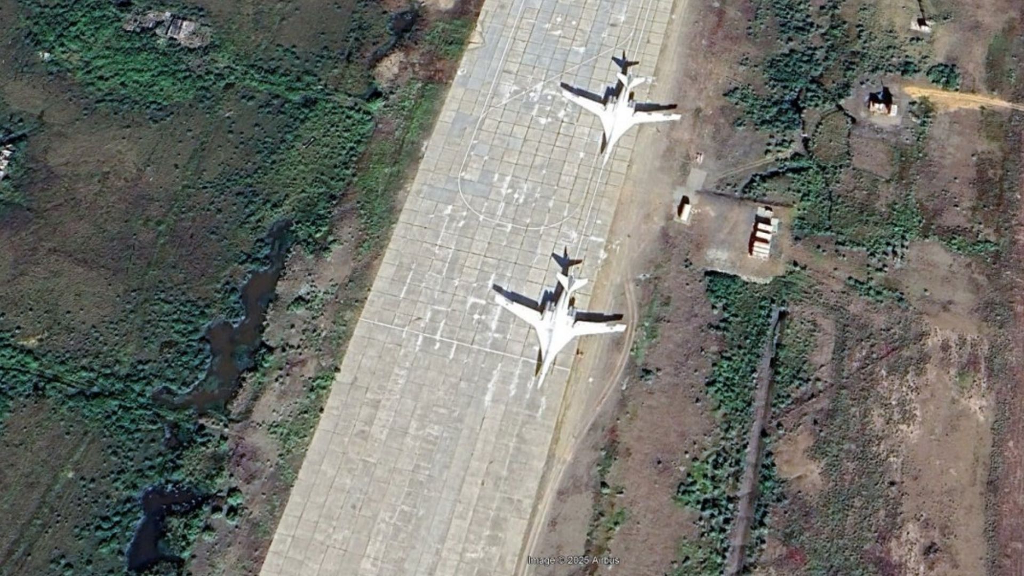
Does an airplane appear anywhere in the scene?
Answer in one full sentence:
Yes, the picture does show an airplane.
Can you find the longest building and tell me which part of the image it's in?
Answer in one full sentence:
The longest building is in the top left part of the image.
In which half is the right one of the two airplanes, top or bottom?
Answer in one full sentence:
Seen from above, the right one of the two airplanes lies in the top half of the view.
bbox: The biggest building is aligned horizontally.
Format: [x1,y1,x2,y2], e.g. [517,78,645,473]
[126,12,213,48]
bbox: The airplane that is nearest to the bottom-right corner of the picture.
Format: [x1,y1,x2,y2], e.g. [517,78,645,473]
[495,268,627,390]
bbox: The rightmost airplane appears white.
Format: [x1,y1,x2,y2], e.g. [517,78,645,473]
[564,66,682,163]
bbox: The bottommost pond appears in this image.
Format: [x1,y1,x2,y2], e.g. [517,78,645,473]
[129,488,210,569]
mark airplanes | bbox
[495,268,627,390]
[564,66,682,163]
